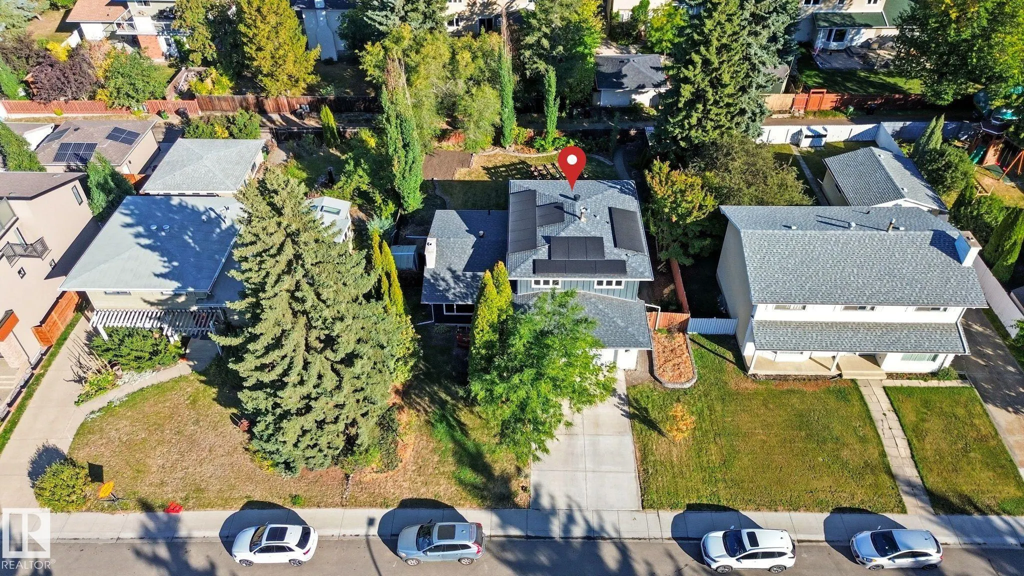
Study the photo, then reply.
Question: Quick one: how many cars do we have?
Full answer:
The number of cars here is 4.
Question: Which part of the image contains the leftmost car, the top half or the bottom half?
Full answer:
It is in the bottom half that the leftmost car appears.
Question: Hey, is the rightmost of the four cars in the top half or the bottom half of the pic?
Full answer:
It is in the bottom half that the rightmost of the four cars appears.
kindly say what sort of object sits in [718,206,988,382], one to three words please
house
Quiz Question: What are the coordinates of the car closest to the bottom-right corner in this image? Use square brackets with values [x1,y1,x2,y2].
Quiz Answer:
[854,524,949,570]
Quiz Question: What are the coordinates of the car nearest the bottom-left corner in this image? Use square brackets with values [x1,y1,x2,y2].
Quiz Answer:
[228,519,320,566]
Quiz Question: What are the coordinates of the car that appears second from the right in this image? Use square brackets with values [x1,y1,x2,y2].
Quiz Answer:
[702,523,799,573]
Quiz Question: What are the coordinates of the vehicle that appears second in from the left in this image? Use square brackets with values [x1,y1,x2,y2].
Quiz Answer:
[395,517,487,566]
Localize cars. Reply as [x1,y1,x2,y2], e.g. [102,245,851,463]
[854,524,949,570]
[395,517,487,566]
[228,519,320,566]
[702,523,799,573]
